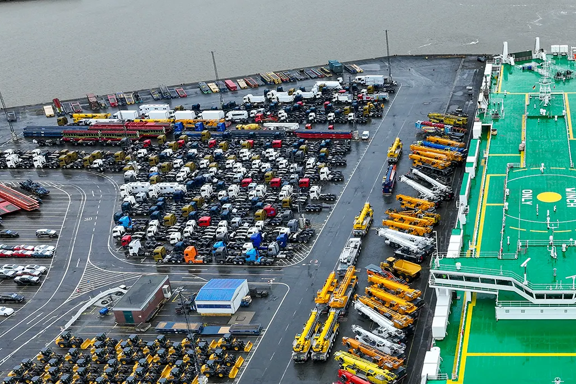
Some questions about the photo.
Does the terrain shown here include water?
Yes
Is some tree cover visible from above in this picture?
No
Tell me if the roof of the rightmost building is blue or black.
blue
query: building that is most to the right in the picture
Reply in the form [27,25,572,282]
[192,275,254,314]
